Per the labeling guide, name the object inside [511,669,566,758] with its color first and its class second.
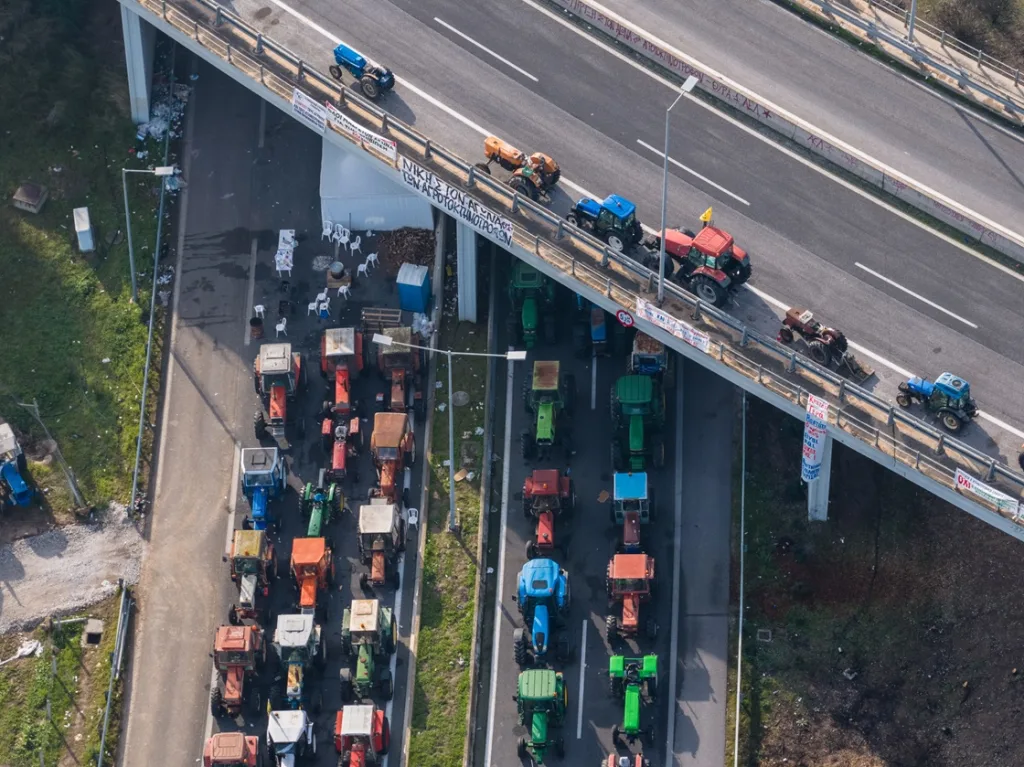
green work vehicle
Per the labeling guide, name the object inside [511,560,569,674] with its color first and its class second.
blue work vehicle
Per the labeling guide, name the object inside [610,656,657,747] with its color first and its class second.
green work vehicle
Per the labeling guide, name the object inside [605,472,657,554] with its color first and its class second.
blue work vehicle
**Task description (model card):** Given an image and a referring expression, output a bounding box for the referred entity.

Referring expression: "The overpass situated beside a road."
[116,0,1024,544]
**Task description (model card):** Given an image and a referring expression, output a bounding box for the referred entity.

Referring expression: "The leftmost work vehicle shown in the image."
[0,422,39,513]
